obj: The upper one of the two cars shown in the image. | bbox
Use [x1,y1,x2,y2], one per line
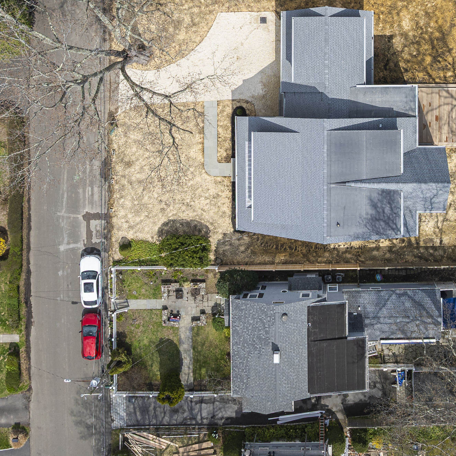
[76,252,102,305]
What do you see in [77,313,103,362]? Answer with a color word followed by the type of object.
red car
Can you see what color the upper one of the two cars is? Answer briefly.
white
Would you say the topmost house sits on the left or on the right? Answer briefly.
right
